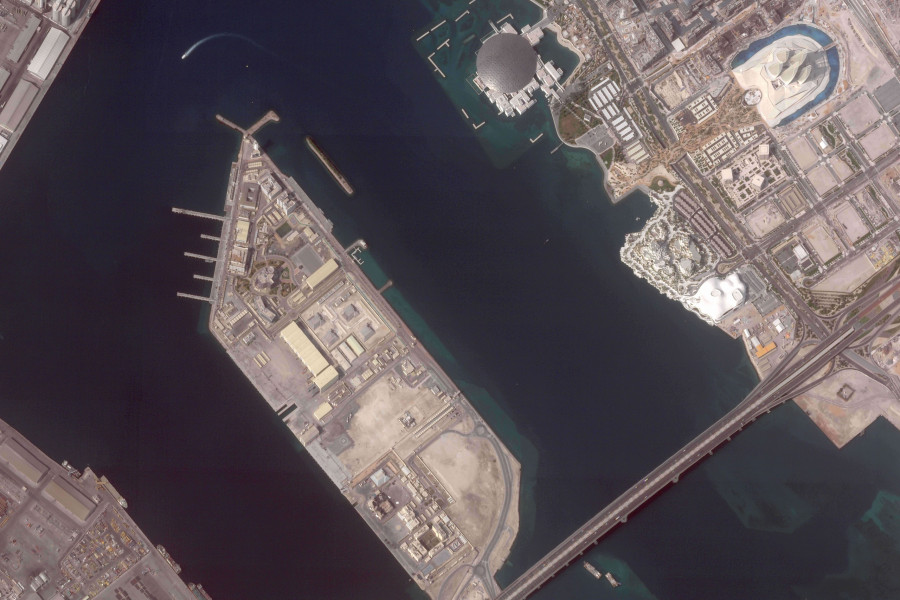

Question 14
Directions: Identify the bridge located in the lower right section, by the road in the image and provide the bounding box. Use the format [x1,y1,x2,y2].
[492,300,886,600]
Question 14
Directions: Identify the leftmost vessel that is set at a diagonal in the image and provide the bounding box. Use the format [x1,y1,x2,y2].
[62,460,82,478]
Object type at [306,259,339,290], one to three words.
building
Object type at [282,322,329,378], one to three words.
building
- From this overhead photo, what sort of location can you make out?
port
